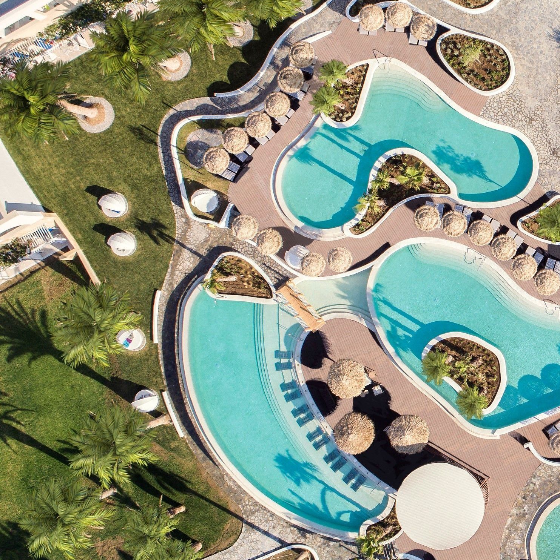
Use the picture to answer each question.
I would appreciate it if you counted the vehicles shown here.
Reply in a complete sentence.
There are no vehicles in the image.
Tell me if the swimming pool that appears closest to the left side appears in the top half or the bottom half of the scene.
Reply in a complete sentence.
It is in the bottom half that the swimming pool that appears closest to the left side appears.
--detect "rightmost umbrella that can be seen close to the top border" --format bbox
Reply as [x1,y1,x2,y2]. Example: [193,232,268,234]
[411,15,437,41]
